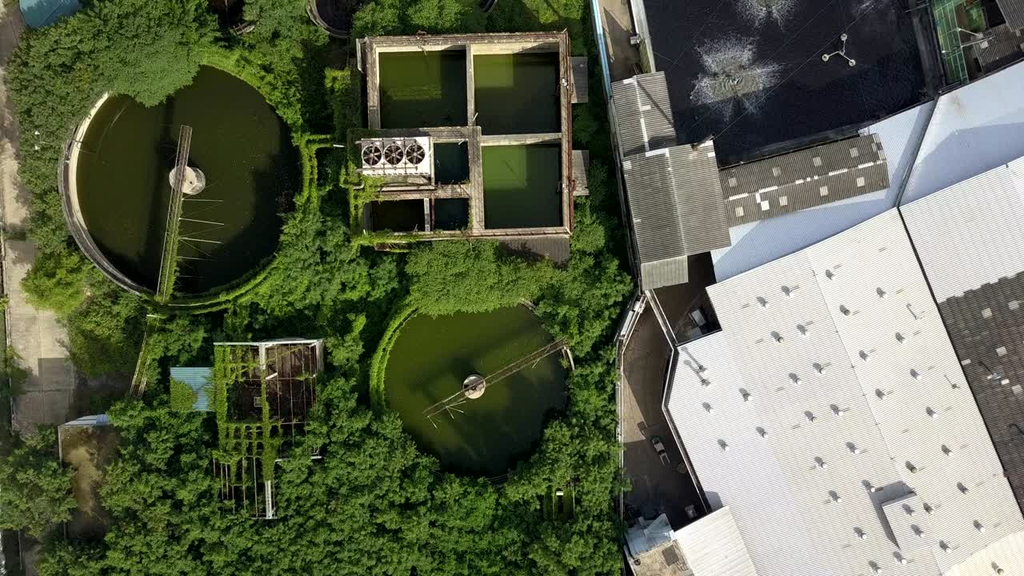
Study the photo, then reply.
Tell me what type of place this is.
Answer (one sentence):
This looks like an industrial area.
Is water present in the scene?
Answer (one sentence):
Yes, water shows up in the scene.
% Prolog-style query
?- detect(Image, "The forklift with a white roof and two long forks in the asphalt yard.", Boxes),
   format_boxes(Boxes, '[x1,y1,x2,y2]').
[648,432,668,464]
